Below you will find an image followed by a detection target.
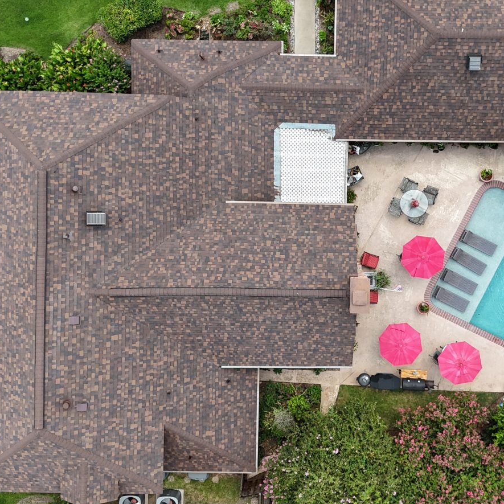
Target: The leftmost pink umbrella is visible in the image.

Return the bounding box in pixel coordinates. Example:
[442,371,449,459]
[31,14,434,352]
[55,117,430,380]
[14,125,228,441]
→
[377,320,421,364]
